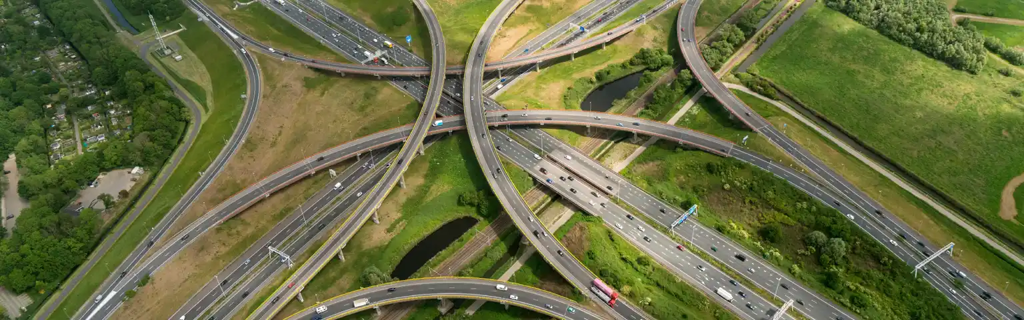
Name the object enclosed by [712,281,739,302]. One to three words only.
truck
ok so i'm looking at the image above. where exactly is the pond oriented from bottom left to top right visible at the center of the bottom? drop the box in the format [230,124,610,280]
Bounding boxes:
[391,216,477,279]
